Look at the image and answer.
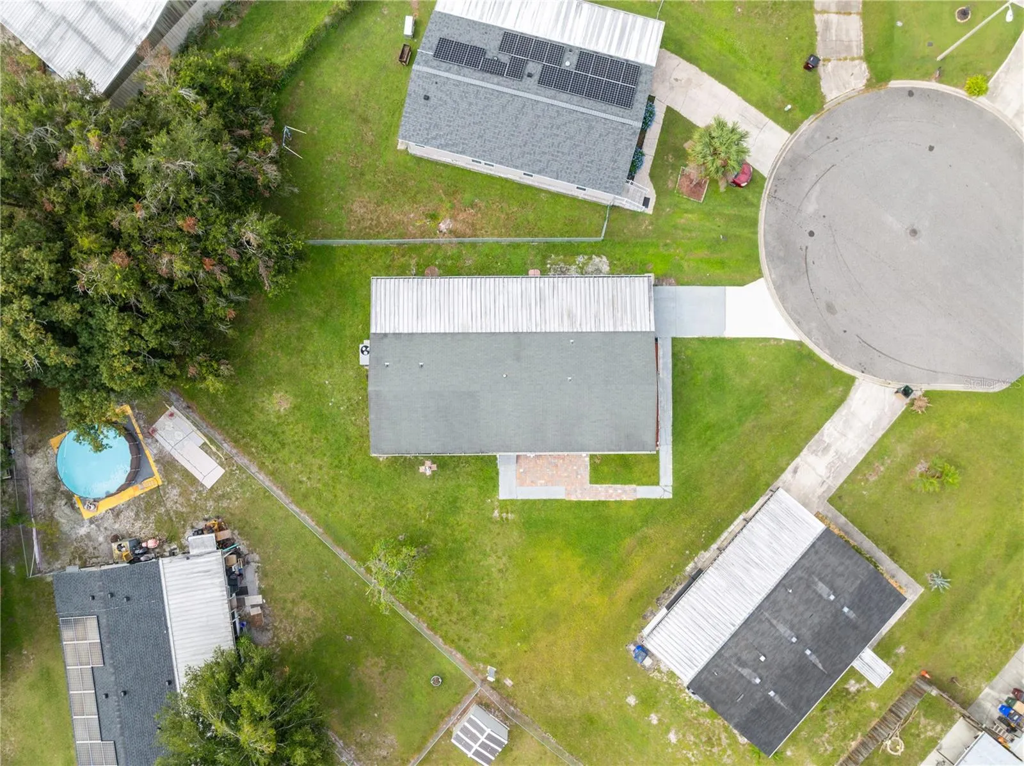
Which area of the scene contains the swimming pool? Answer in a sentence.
Look in the left portion of the view to spot the swimming pool.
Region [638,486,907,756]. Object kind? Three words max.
house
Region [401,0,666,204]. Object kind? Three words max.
house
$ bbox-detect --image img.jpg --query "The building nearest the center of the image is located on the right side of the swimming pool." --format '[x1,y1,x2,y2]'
[368,275,659,456]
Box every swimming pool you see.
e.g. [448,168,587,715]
[55,425,142,501]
